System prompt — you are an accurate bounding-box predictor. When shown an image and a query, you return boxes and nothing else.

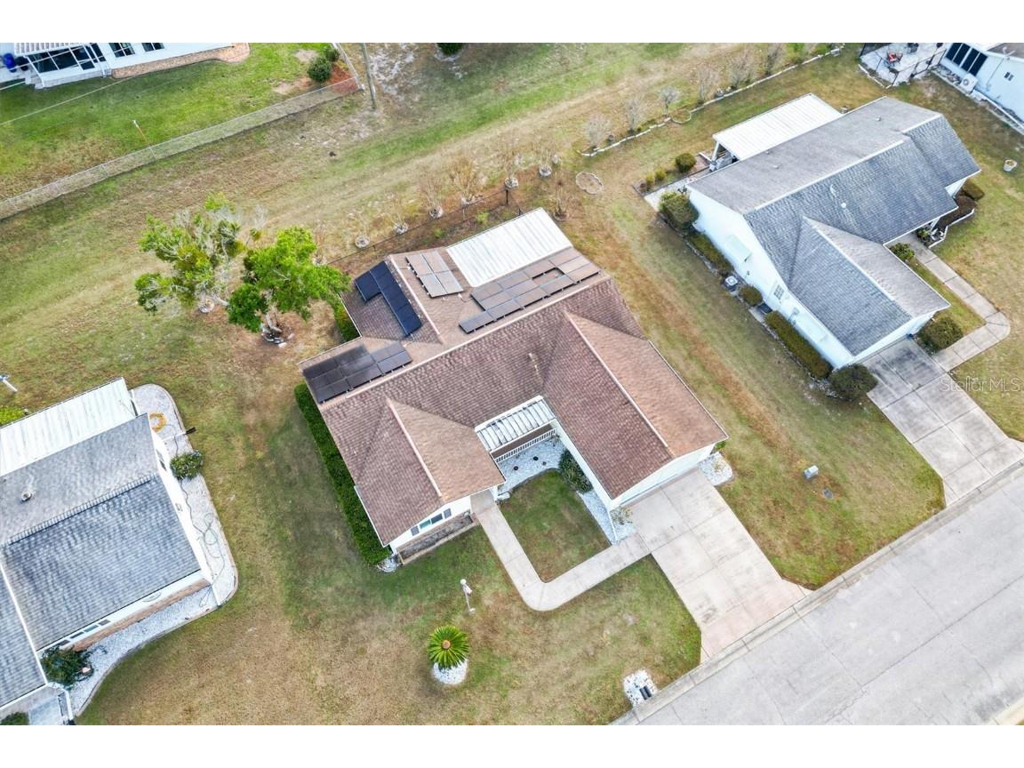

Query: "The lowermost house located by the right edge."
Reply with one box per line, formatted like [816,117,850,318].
[683,94,983,373]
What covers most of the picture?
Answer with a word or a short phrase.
grass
